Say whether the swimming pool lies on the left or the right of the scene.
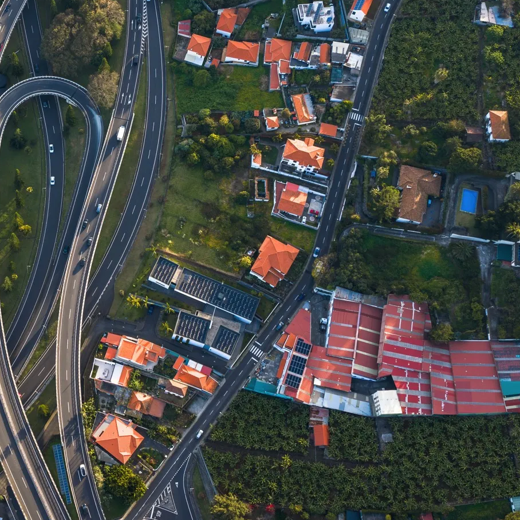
right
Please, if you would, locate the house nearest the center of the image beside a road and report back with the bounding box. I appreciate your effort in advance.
[249,236,299,290]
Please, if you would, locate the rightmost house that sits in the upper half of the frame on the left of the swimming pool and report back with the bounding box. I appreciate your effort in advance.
[395,164,438,226]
